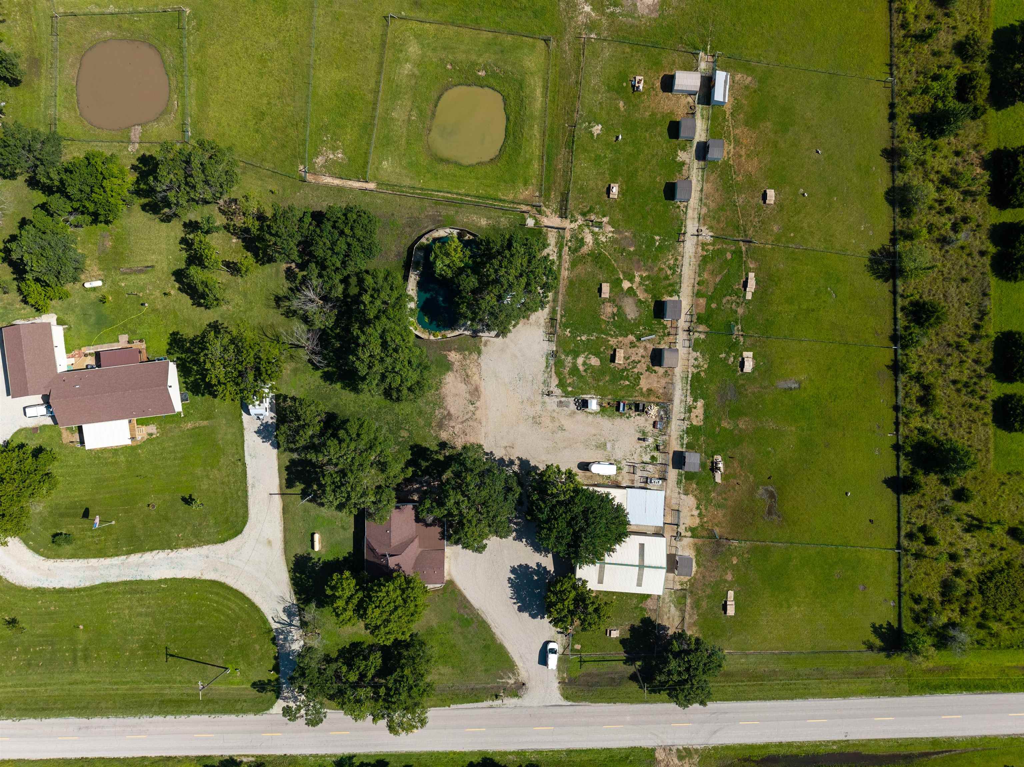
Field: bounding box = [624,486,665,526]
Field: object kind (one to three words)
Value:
shed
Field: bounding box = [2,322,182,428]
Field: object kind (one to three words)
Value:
house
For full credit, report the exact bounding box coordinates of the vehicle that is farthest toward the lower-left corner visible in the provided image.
[24,403,54,417]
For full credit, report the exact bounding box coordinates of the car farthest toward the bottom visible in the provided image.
[546,641,558,669]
